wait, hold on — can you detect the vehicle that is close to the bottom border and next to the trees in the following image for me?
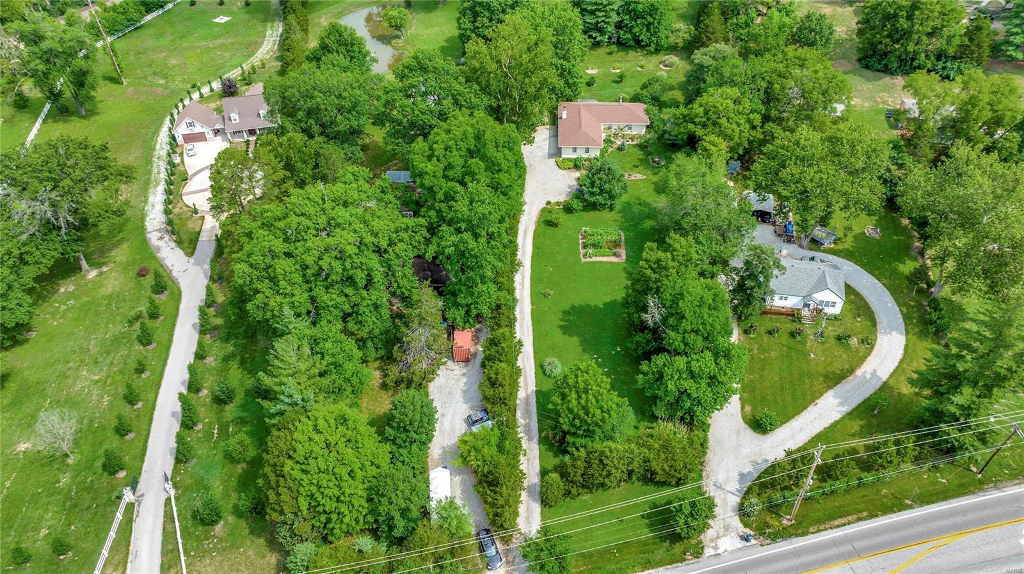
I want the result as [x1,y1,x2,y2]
[476,528,503,571]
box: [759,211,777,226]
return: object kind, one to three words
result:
car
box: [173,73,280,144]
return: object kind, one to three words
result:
house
